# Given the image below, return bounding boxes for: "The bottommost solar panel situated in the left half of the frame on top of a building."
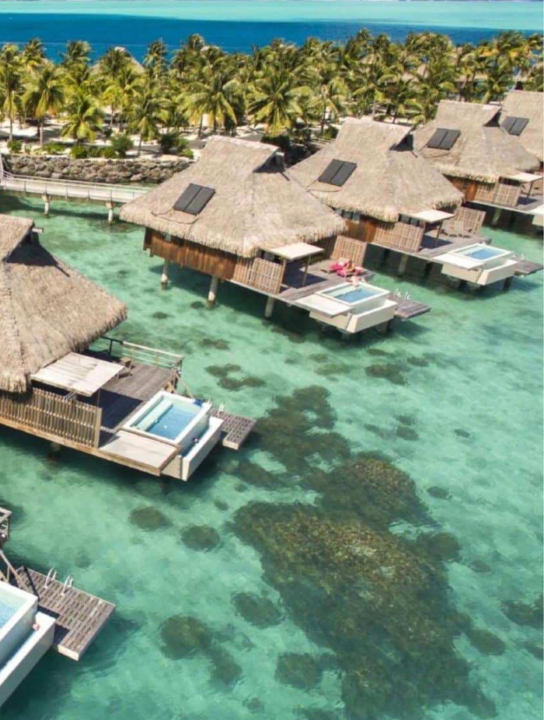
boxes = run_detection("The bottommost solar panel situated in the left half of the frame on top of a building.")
[158,184,214,224]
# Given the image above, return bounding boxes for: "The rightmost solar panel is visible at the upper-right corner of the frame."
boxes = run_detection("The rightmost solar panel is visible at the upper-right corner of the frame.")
[499,119,523,139]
